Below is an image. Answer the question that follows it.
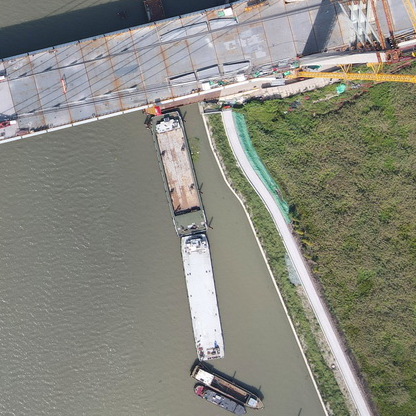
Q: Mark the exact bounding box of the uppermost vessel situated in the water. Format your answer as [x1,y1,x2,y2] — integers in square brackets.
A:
[154,112,206,237]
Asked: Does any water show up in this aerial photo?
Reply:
Yes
